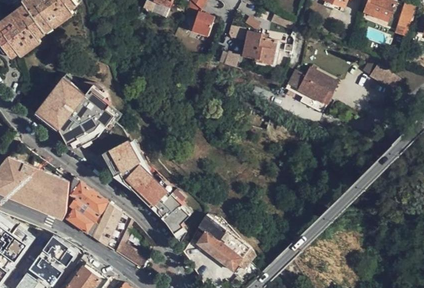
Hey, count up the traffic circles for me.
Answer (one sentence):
Not a single traffic circle can be seen.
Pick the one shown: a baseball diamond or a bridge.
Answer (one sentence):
Looking from above, you can make out a bridge.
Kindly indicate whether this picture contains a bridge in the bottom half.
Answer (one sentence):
Yes, in the bottom half there is a bridge.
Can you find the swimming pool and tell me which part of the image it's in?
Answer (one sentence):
The swimming pool is in the top right part of the image.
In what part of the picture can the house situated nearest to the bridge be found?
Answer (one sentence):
The house situated nearest to the bridge sits in the bottom section of the image.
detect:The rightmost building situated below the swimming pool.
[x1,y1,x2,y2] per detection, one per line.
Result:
[362,62,401,84]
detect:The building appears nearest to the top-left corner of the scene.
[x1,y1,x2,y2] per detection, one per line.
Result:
[0,0,83,60]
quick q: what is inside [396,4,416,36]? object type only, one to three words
house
